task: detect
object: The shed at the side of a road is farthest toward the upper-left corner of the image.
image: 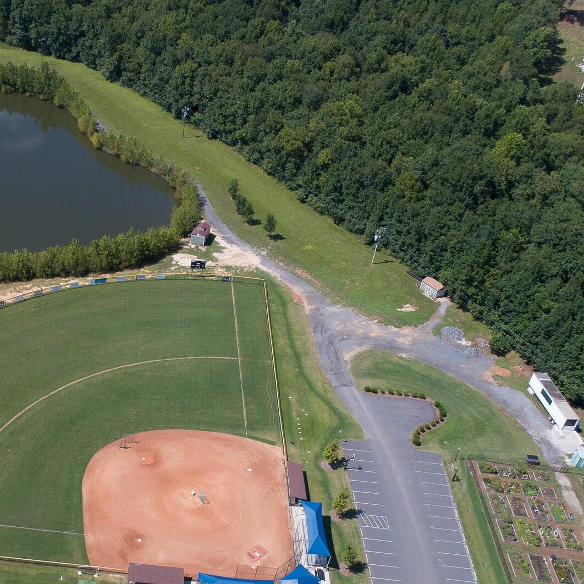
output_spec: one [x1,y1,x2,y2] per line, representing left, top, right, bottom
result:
[190,221,211,245]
